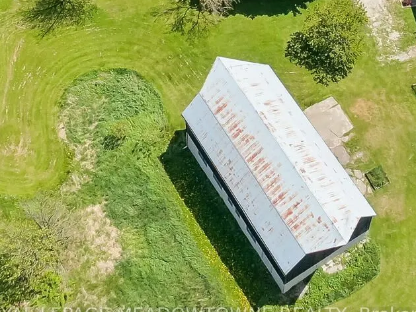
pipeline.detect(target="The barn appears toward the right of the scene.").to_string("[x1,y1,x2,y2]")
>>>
[180,57,378,290]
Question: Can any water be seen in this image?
No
